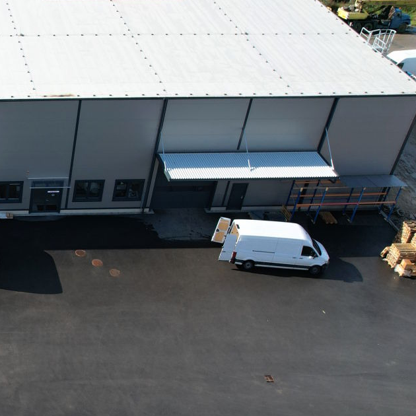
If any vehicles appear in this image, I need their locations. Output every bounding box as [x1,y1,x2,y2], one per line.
[216,223,331,275]
[330,0,416,35]
[386,49,416,76]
